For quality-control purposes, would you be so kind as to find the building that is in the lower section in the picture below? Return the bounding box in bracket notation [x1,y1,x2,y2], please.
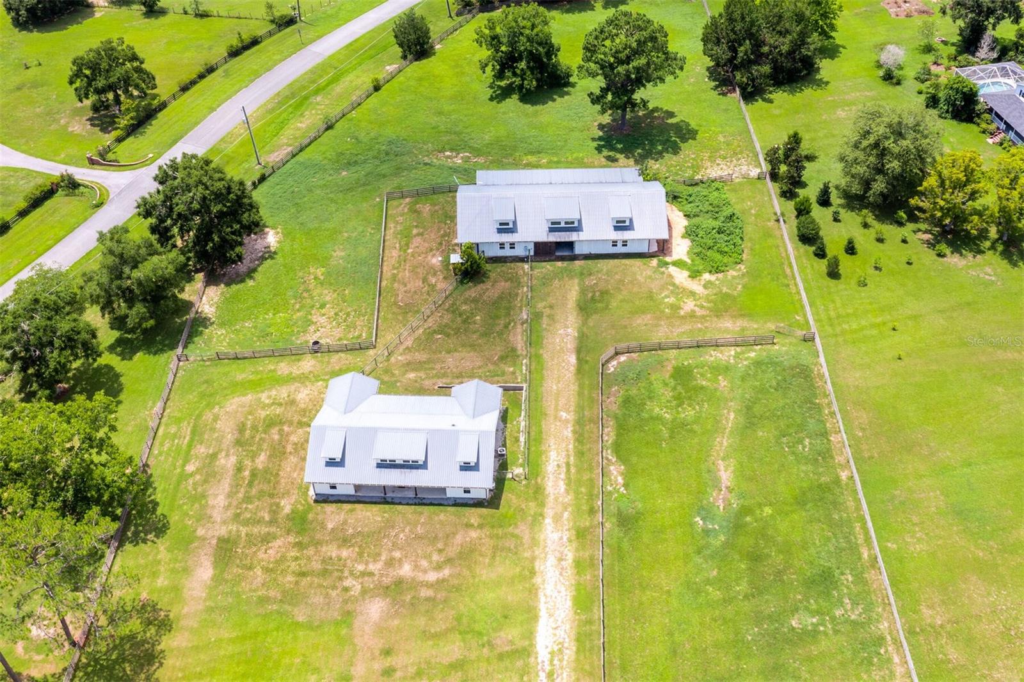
[304,369,502,506]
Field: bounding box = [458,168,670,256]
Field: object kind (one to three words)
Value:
barn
